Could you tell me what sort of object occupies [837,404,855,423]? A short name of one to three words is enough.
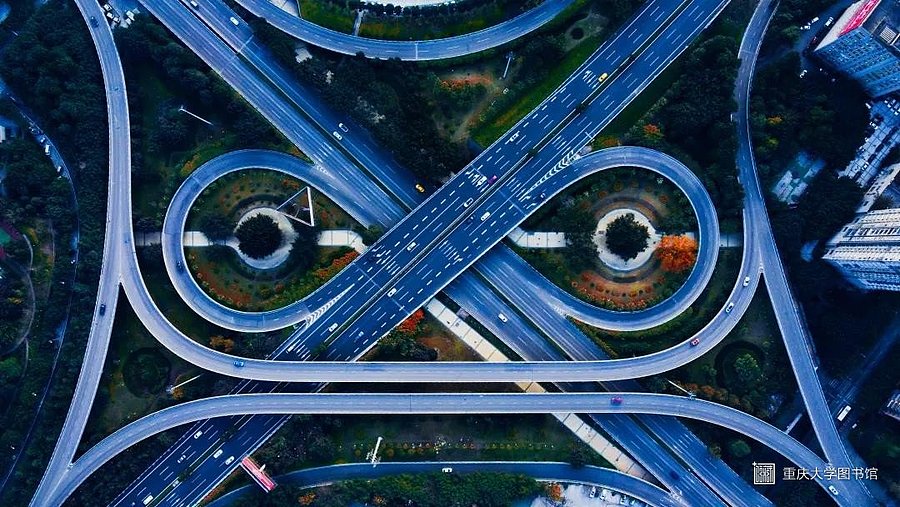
vehicle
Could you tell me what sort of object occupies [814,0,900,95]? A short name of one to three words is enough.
building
